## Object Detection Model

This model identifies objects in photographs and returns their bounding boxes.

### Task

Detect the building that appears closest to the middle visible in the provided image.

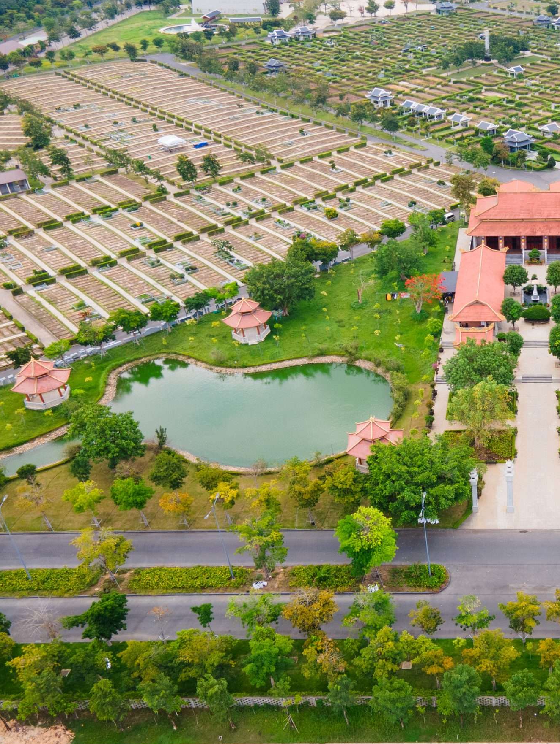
[218,294,277,342]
